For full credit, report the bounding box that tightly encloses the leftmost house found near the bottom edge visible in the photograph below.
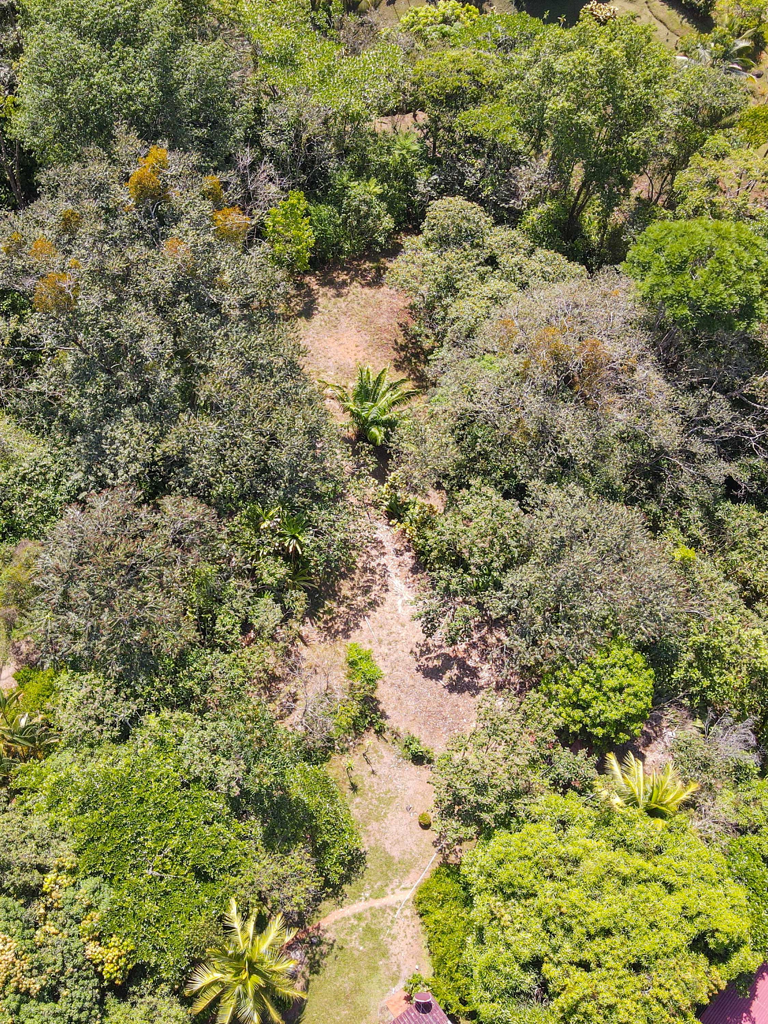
[393,992,451,1024]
